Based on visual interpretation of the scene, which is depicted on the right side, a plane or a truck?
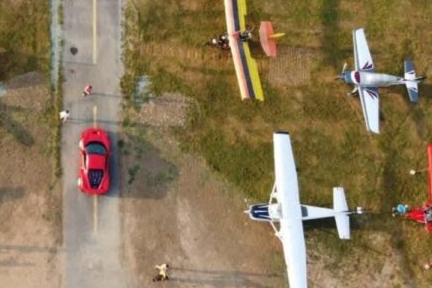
plane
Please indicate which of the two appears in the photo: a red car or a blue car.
red car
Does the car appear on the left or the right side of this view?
left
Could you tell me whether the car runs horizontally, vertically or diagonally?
vertically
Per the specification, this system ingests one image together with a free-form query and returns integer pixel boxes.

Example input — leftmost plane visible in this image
[202,0,289,99]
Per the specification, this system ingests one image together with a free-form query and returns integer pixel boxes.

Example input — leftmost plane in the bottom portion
[243,132,369,288]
